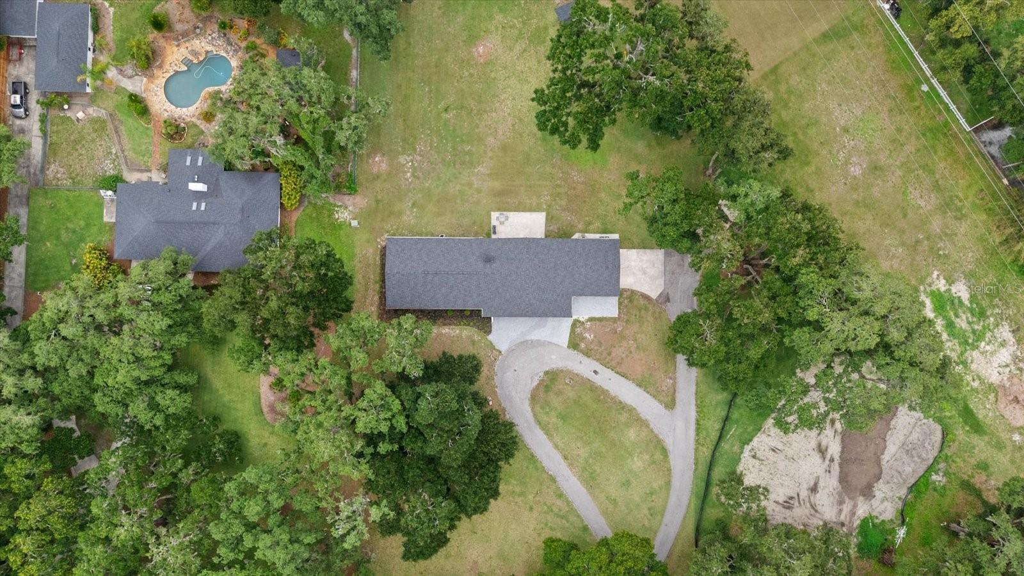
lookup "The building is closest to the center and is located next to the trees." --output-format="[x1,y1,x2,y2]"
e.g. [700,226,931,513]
[384,237,621,318]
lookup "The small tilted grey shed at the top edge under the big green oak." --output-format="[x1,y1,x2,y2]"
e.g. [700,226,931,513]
[555,1,574,26]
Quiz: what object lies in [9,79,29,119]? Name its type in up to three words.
vehicle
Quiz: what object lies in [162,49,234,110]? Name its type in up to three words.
swimming pool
